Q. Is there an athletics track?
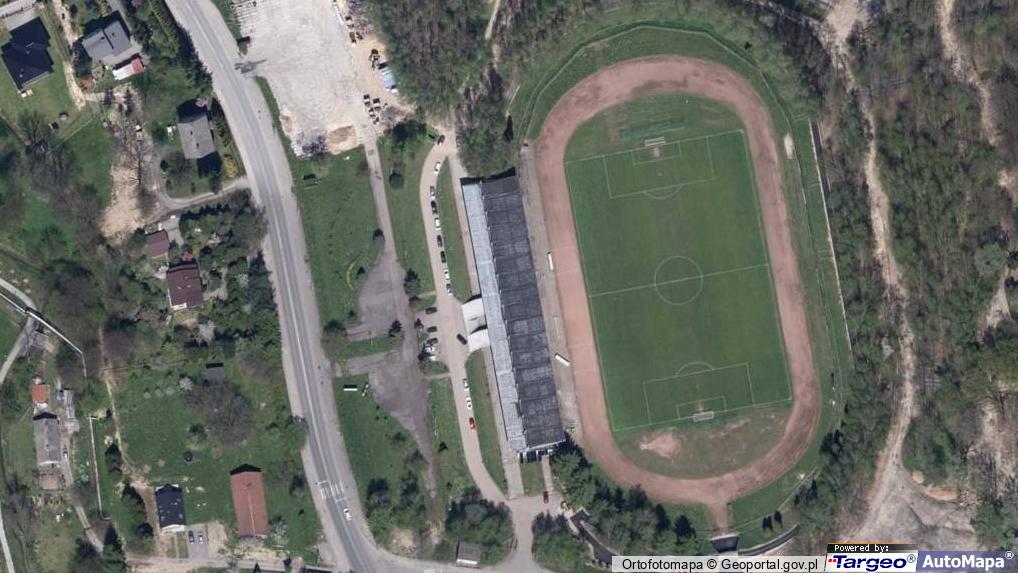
Yes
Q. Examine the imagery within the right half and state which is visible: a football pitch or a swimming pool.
football pitch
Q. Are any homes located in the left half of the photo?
Yes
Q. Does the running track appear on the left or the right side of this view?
right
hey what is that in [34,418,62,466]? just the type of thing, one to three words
house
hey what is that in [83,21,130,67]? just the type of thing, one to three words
house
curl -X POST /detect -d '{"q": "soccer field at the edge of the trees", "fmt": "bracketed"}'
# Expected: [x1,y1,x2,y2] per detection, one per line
[565,129,791,433]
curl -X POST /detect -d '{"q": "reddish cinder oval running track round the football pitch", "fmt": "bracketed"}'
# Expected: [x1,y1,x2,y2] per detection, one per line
[537,54,821,531]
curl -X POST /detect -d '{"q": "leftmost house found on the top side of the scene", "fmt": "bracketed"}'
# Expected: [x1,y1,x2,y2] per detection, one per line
[3,18,55,84]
